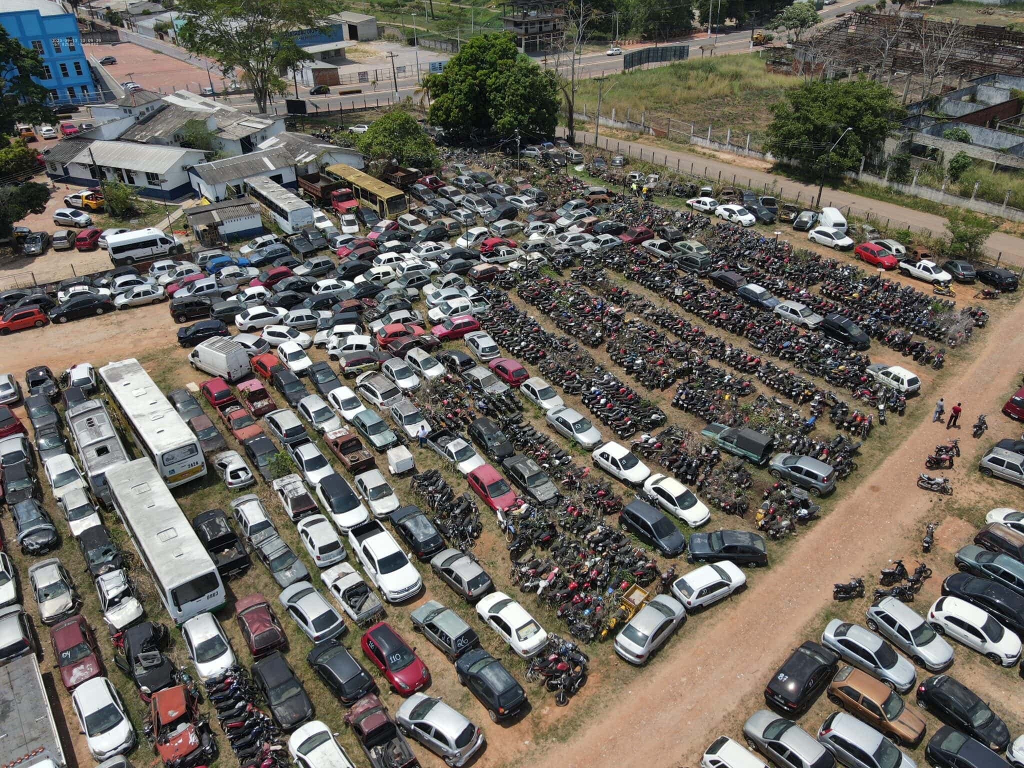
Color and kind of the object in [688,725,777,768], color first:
white car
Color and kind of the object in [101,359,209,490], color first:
white bus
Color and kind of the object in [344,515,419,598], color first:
white truck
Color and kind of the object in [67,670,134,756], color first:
white car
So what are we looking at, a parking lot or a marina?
parking lot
